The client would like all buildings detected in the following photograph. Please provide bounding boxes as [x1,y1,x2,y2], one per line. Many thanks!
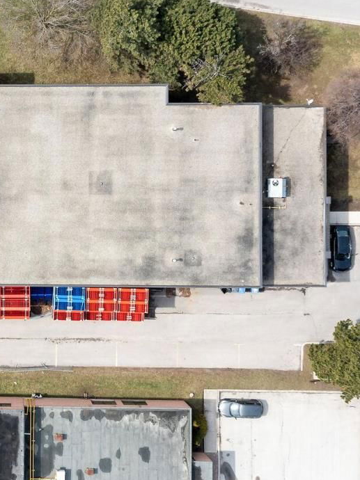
[0,85,262,286]
[24,398,191,480]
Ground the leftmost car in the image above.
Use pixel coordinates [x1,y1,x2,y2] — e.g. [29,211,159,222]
[218,397,263,420]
